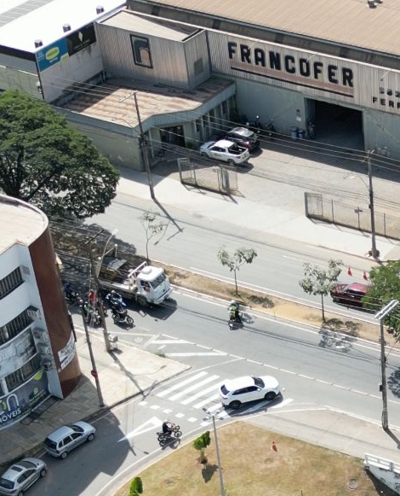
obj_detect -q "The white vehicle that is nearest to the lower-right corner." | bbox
[217,375,282,408]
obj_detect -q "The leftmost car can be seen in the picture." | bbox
[0,458,49,496]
